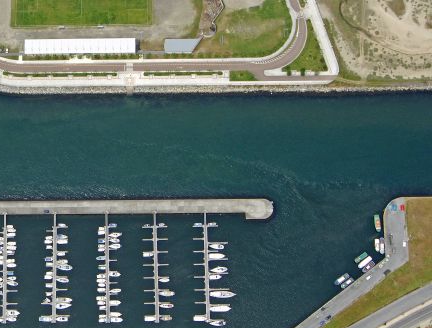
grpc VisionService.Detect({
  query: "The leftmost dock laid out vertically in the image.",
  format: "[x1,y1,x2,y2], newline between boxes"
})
[0,215,18,324]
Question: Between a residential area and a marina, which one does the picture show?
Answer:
marina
